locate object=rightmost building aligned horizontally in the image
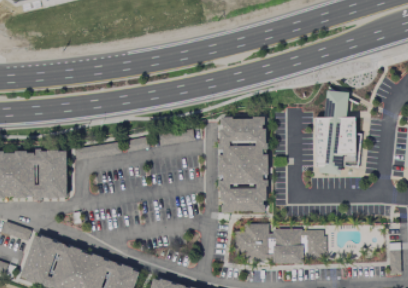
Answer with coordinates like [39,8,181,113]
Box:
[238,224,328,264]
